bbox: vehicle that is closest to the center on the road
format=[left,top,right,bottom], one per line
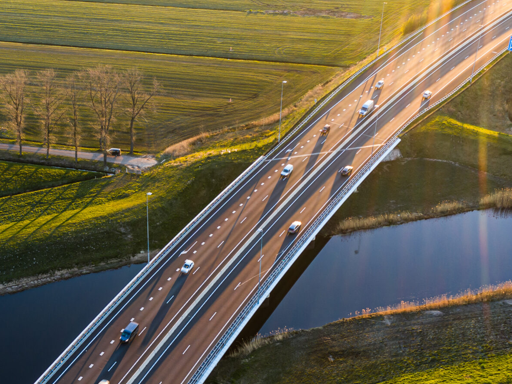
[280,163,293,177]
